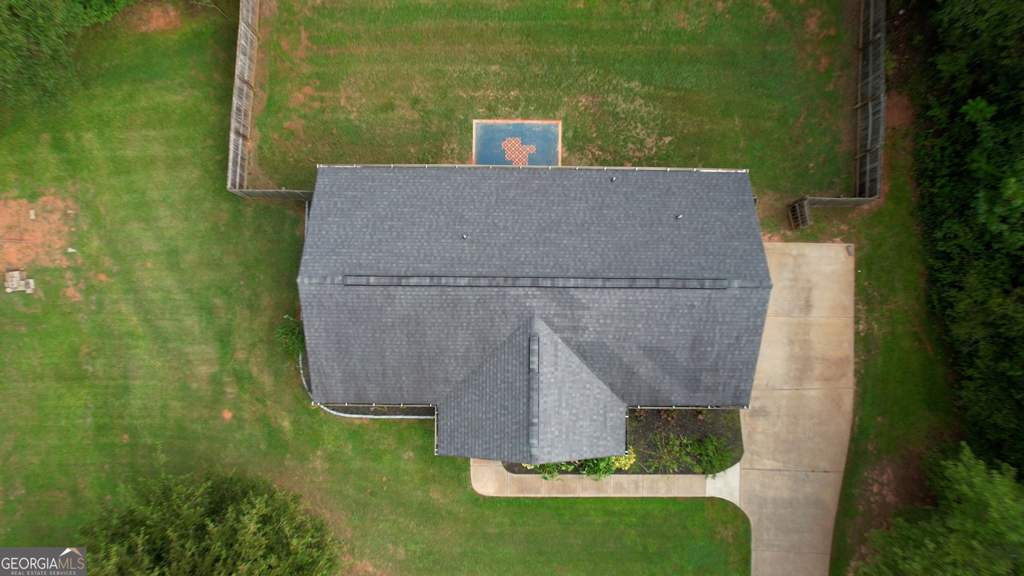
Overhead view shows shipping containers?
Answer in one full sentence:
No, the photo shows no shipping container.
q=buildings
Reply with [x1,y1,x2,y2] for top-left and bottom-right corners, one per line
[297,166,771,463]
